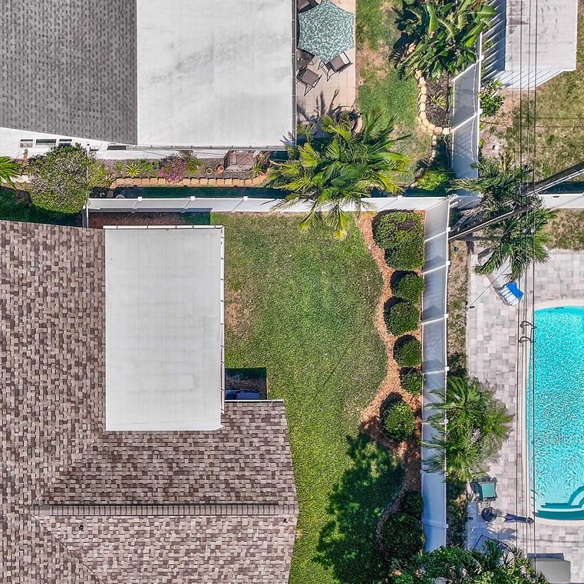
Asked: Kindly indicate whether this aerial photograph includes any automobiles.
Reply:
No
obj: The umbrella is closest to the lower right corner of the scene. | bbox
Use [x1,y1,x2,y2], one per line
[482,507,536,525]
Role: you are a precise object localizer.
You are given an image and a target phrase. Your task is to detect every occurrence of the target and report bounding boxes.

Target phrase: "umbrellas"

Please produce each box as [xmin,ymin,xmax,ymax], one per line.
[295,0,356,64]
[482,507,536,525]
